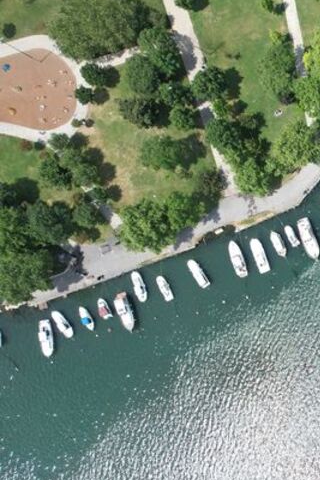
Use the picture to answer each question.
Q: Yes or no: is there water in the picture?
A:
Yes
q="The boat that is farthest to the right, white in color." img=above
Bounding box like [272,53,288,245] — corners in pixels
[296,203,320,261]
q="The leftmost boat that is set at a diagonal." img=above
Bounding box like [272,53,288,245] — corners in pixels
[52,307,75,339]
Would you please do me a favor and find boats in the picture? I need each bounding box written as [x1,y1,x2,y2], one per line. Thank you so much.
[52,307,75,339]
[154,270,175,302]
[285,226,301,248]
[78,308,95,331]
[229,235,251,281]
[246,229,271,275]
[296,203,320,261]
[38,316,54,358]
[98,295,114,321]
[270,231,286,257]
[114,280,136,334]
[188,250,211,290]
[130,271,149,304]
